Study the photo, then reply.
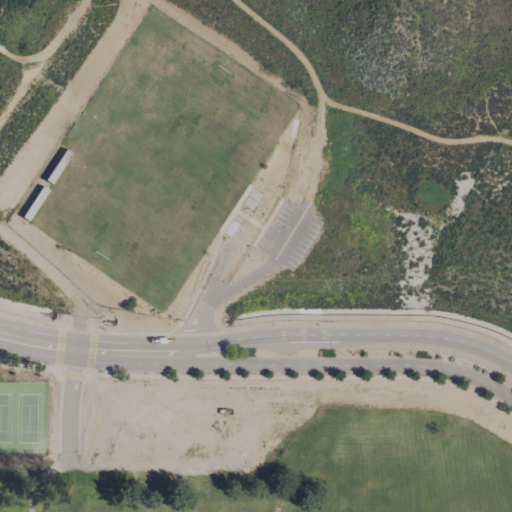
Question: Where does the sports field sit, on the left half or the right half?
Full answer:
You can find the sports field on the left side of the picture.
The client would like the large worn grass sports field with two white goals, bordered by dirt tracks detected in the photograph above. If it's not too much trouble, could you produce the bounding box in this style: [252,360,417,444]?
[32,7,300,312]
